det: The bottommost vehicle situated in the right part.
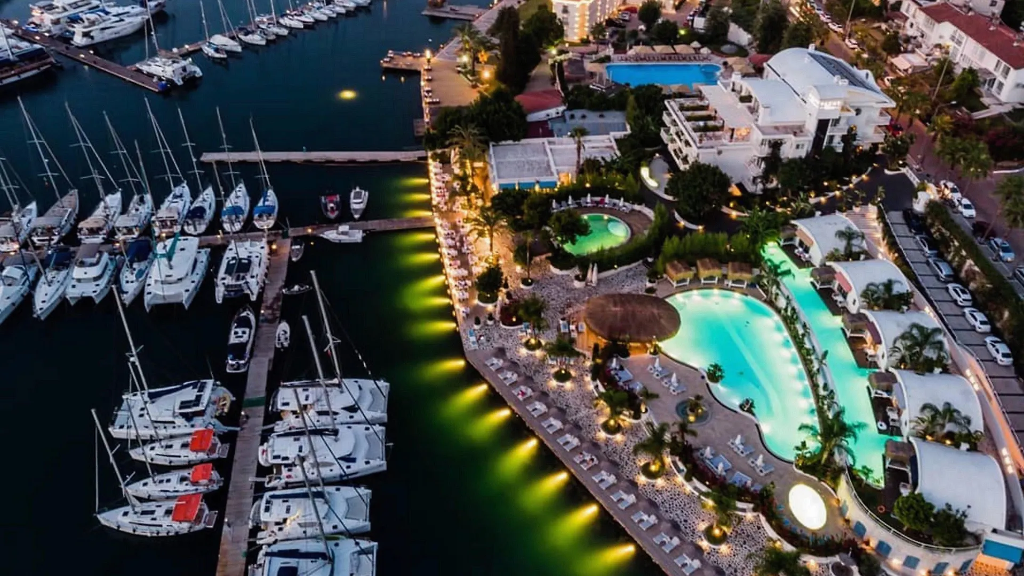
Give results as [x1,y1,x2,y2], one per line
[982,331,1023,364]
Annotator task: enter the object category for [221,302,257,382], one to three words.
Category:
boat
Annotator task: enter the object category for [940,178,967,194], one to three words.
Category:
car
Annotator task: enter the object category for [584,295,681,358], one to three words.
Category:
building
